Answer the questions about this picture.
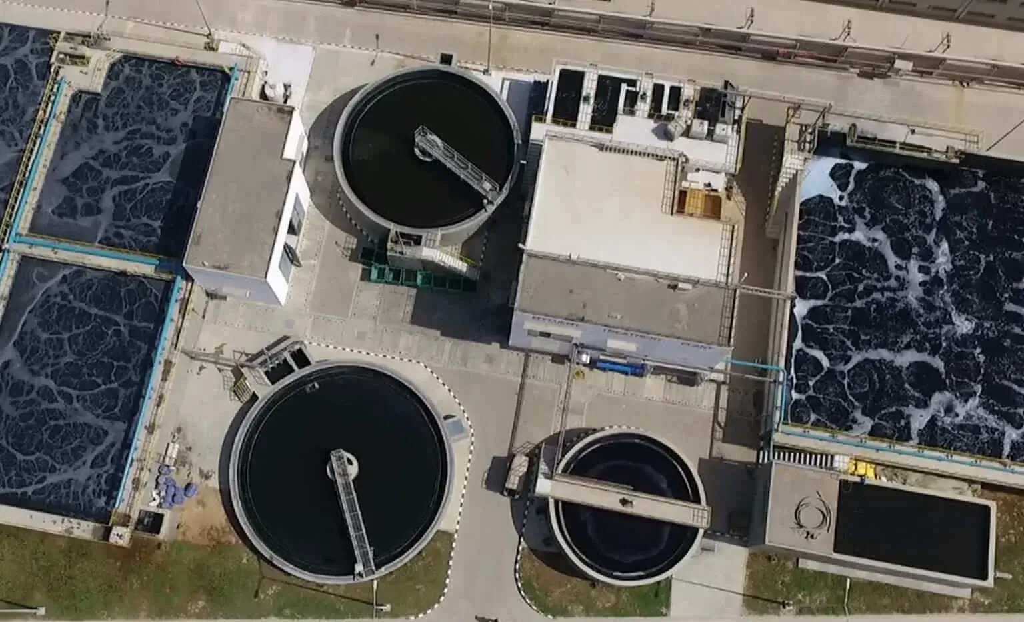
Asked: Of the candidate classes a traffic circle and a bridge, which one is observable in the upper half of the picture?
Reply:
bridge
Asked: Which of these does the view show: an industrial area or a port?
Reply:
industrial area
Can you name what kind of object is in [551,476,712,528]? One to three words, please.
bridge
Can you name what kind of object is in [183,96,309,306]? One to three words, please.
building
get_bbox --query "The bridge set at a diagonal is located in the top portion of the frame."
[416,132,500,206]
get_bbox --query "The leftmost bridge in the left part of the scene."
[329,448,374,575]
